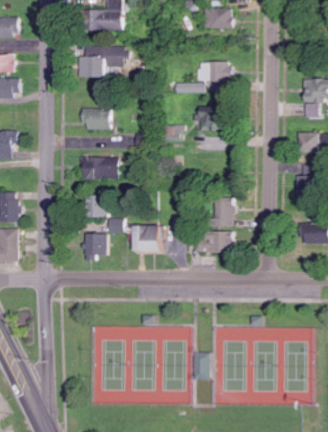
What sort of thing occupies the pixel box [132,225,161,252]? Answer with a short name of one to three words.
house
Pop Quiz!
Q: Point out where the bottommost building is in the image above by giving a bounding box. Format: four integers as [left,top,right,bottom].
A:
[194,352,214,378]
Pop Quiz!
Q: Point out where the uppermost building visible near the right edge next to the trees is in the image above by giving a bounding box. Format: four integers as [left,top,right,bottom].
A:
[303,78,328,103]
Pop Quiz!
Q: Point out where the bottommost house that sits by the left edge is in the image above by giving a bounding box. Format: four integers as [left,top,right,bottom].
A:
[0,228,23,262]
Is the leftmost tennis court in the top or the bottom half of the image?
bottom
